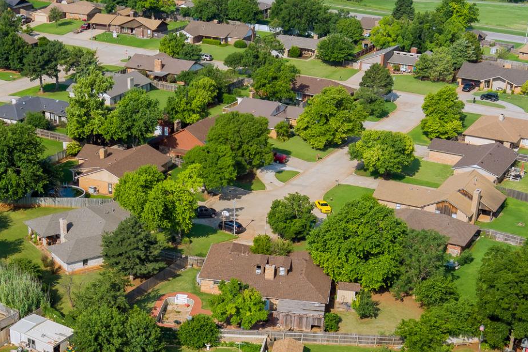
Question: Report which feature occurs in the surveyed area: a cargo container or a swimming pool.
swimming pool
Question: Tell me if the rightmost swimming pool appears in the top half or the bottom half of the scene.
bottom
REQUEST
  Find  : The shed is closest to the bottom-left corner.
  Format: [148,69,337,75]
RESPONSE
[9,315,75,352]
